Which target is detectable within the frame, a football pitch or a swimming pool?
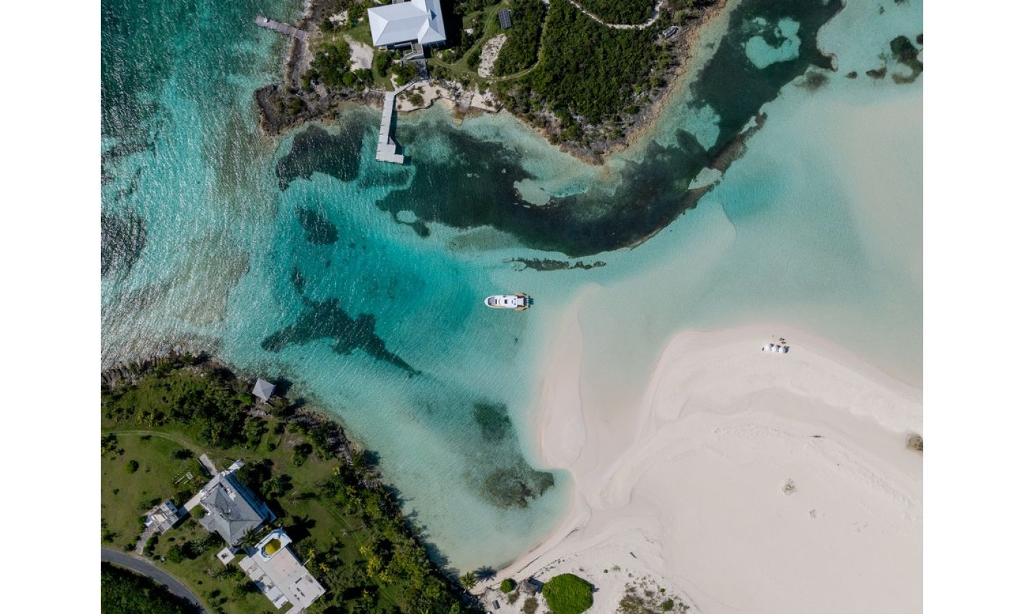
swimming pool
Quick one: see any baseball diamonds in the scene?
No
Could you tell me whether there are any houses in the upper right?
No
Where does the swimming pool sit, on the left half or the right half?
left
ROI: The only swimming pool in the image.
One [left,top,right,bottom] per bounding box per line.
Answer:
[255,527,294,562]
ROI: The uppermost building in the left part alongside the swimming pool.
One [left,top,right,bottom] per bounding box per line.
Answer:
[199,466,277,545]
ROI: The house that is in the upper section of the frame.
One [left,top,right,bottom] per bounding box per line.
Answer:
[368,0,447,62]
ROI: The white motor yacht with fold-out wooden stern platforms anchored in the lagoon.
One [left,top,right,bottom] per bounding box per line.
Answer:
[484,292,530,311]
